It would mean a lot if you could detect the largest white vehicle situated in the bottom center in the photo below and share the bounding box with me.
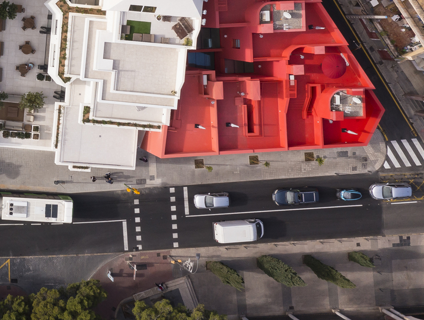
[212,221,263,246]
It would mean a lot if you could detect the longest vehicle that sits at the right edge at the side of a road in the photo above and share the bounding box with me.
[371,183,417,204]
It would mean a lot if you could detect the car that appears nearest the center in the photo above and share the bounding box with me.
[193,192,232,213]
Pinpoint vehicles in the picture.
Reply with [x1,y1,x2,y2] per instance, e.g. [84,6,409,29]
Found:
[272,189,322,210]
[0,197,76,227]
[371,183,417,204]
[193,192,232,213]
[212,221,263,246]
[338,188,365,205]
